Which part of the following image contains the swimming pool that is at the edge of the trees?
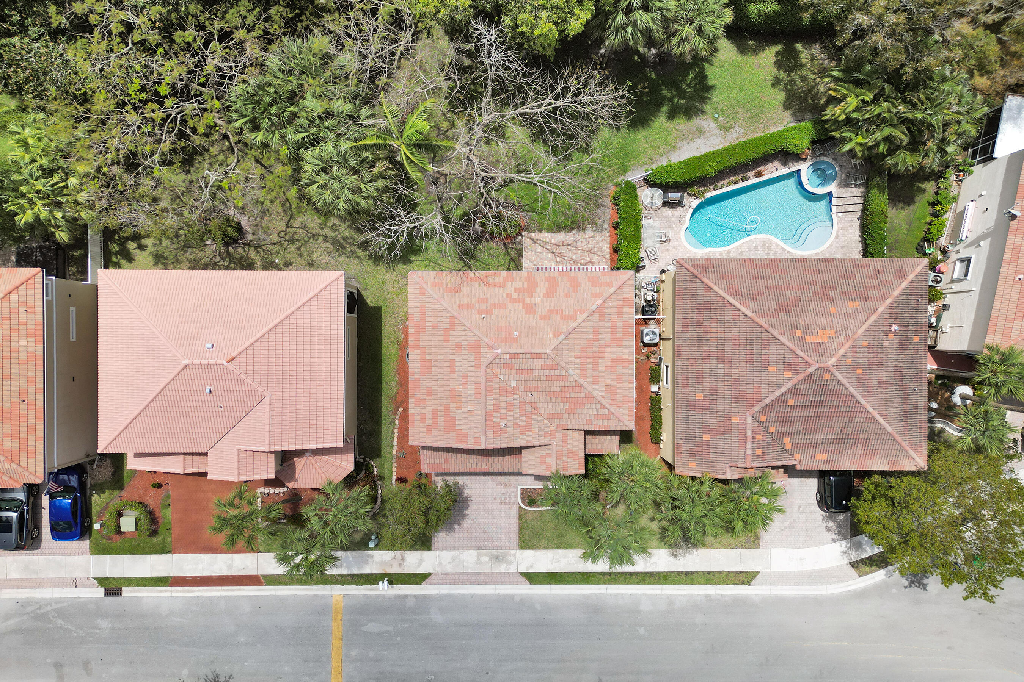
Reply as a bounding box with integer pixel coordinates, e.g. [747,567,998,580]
[679,153,843,256]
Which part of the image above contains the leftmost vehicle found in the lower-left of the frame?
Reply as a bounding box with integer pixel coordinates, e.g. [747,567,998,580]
[0,482,37,552]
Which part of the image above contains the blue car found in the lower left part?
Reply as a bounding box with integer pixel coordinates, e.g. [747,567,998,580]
[50,463,89,541]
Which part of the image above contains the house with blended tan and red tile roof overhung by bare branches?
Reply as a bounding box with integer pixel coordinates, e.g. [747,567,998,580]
[407,269,636,475]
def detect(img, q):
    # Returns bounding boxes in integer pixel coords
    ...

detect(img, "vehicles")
[0,482,37,552]
[817,471,856,514]
[50,463,89,541]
